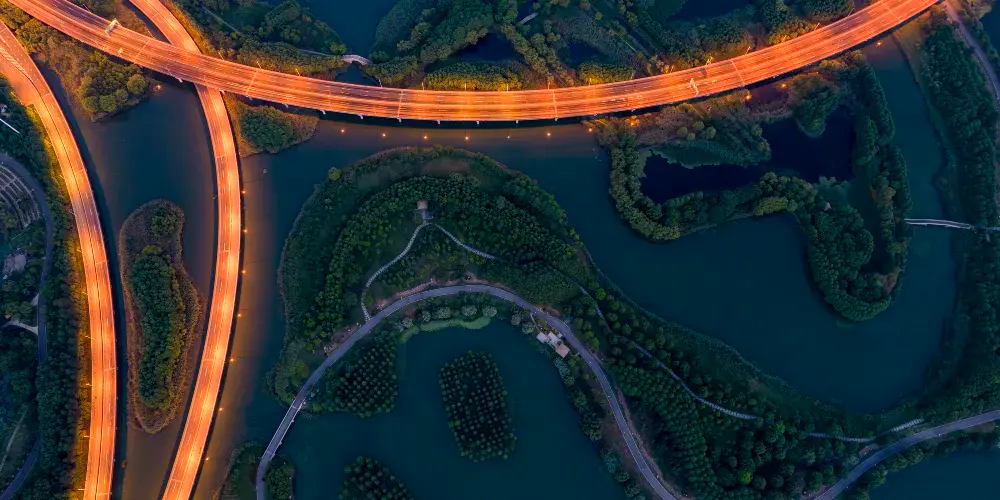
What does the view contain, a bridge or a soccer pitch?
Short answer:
bridge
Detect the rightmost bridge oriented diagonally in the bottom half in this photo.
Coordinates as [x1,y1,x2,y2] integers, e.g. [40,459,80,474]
[265,387,308,450]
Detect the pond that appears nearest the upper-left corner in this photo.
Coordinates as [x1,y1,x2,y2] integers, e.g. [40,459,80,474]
[450,27,525,69]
